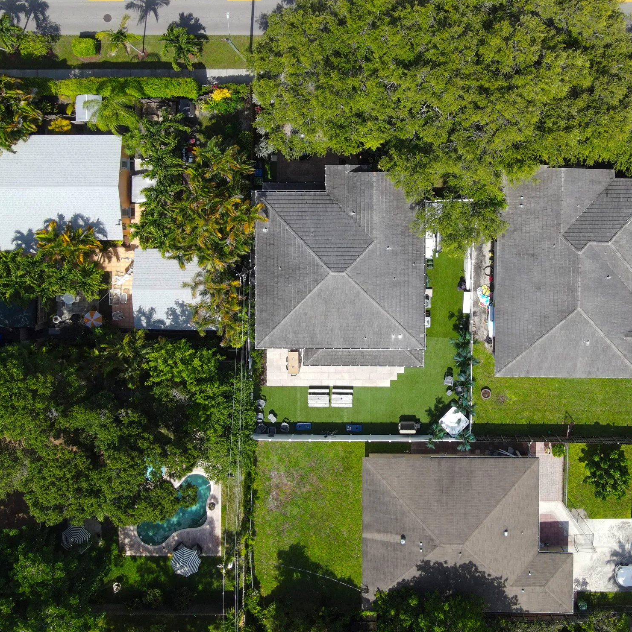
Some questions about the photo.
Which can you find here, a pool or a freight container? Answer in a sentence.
Looking from above, you can make out a pool.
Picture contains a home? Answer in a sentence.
Yes, there's a home here.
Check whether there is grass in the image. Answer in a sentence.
Yes, grass shows up in the scene.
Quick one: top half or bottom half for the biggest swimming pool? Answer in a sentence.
The biggest swimming pool sits in the bottom half of the picture.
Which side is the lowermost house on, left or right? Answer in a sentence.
The lowermost house sits on the right side.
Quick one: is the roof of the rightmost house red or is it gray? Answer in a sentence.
In this view, the roof of the rightmost house is gray.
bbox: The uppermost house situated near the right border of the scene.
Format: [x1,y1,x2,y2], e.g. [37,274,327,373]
[491,168,632,379]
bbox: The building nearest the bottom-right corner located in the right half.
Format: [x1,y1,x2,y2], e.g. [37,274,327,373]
[361,452,574,614]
